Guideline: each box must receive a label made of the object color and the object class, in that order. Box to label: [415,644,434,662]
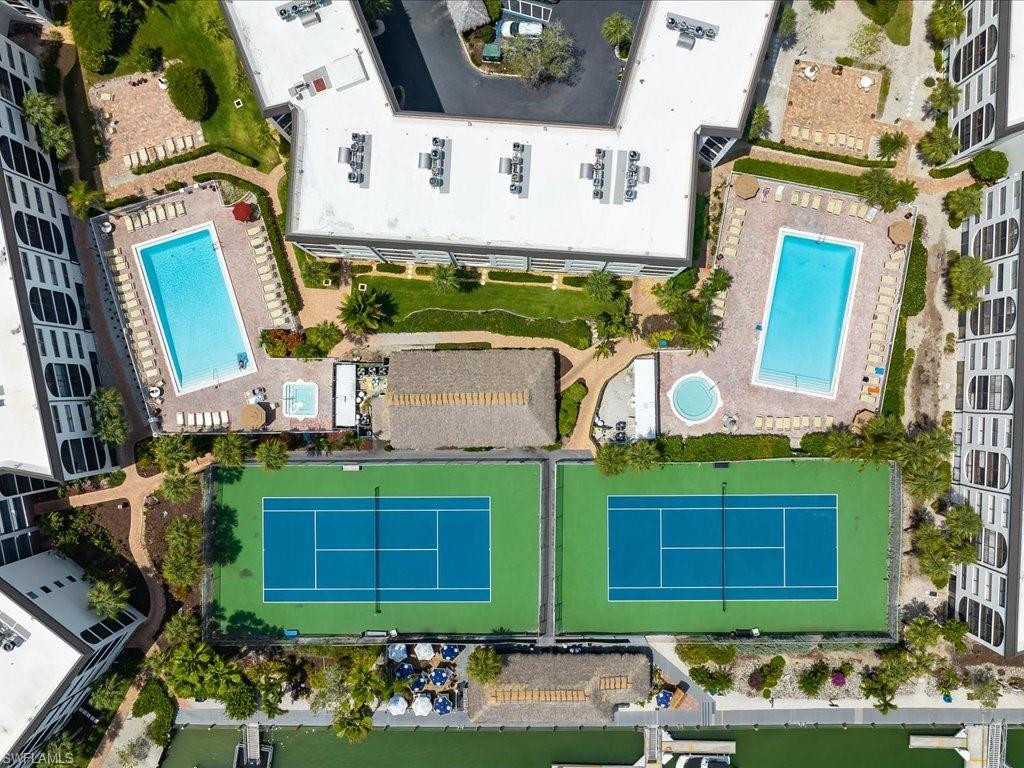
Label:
white umbrella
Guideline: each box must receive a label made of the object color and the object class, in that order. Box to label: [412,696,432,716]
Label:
white umbrella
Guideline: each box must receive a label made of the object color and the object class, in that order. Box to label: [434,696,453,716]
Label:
blue umbrella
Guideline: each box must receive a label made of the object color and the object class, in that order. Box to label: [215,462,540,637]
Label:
green tennis court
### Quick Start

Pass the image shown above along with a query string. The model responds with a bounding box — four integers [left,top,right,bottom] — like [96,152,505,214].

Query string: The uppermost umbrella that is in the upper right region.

[733,174,757,198]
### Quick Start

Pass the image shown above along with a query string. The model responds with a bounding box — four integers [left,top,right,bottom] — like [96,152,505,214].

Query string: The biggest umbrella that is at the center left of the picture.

[241,405,265,429]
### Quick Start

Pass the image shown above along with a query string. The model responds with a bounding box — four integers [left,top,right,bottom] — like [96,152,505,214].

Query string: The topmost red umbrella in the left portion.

[234,201,253,220]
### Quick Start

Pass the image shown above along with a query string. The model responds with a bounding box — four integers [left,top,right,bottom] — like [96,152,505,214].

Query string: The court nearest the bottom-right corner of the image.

[556,460,890,634]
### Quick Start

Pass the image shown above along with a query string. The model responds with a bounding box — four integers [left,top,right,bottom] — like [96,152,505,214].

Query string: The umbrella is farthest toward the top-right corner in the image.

[890,220,914,244]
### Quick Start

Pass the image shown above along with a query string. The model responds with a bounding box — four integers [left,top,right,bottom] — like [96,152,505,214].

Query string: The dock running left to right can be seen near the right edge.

[908,731,989,768]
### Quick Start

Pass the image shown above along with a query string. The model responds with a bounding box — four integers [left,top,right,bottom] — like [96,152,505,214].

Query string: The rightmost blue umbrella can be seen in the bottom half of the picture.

[656,691,672,708]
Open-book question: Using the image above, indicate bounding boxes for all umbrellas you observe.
[733,174,757,198]
[441,644,460,662]
[429,668,448,687]
[890,220,914,244]
[415,644,434,662]
[434,696,453,716]
[388,643,407,662]
[412,696,432,716]
[850,408,875,432]
[408,676,427,695]
[387,697,407,717]
[234,201,253,220]
[394,662,413,680]
[241,405,265,429]
[656,691,672,708]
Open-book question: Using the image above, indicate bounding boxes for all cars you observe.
[546,0,563,6]
[499,18,544,43]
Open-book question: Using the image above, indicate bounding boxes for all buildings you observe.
[336,365,357,426]
[948,171,1024,656]
[0,36,117,481]
[445,0,492,32]
[222,0,776,284]
[0,535,146,768]
[634,359,655,438]
[465,650,654,726]
[940,0,1024,171]
[385,344,560,452]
